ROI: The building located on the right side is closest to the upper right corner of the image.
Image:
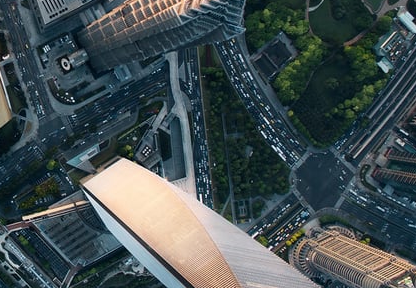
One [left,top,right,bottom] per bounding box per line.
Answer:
[392,11,416,34]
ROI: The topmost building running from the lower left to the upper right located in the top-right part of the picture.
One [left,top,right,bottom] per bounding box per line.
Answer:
[372,31,399,58]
